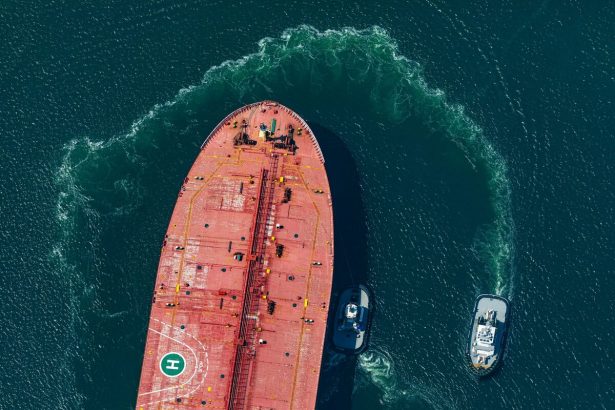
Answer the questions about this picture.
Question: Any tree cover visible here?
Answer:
No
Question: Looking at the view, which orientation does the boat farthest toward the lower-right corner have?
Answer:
from top to bottom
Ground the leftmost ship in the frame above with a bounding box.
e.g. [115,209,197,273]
[136,98,335,410]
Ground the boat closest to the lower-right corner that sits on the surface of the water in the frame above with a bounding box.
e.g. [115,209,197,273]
[465,292,507,376]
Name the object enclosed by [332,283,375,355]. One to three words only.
boat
